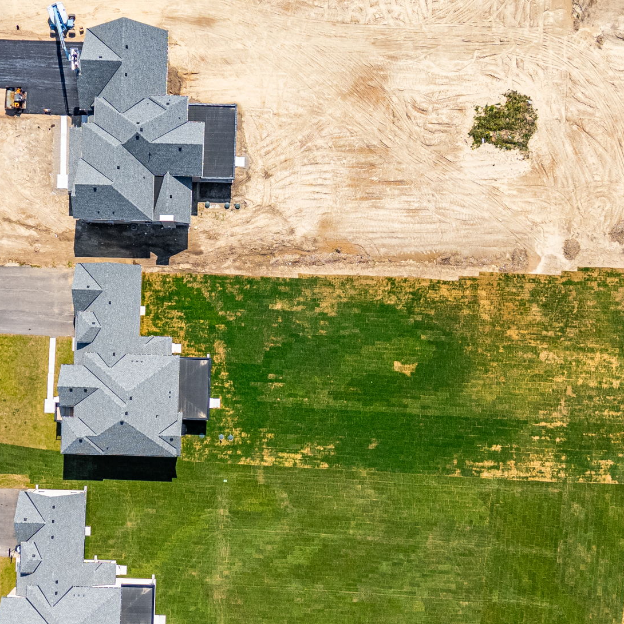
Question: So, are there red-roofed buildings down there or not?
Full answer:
No, I can't see a single red-roofed building in this photo.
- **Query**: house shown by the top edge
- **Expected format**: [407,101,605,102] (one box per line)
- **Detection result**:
[68,16,245,232]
